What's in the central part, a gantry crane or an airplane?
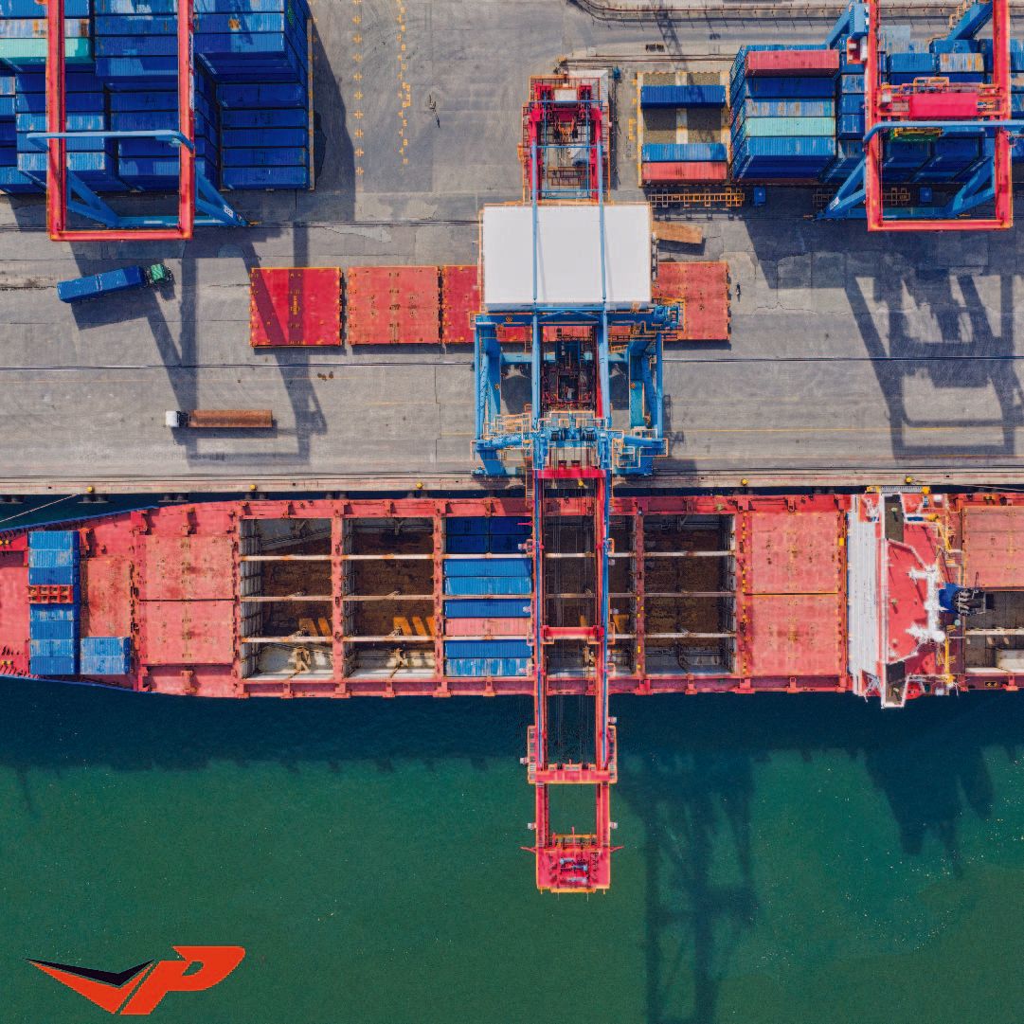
gantry crane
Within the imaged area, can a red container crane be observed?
Yes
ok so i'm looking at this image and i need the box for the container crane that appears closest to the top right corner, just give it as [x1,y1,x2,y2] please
[806,0,1016,232]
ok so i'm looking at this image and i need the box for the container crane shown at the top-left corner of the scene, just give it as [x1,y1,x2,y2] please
[36,0,256,242]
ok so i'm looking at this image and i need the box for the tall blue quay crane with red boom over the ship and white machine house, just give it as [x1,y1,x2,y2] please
[466,69,686,901]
